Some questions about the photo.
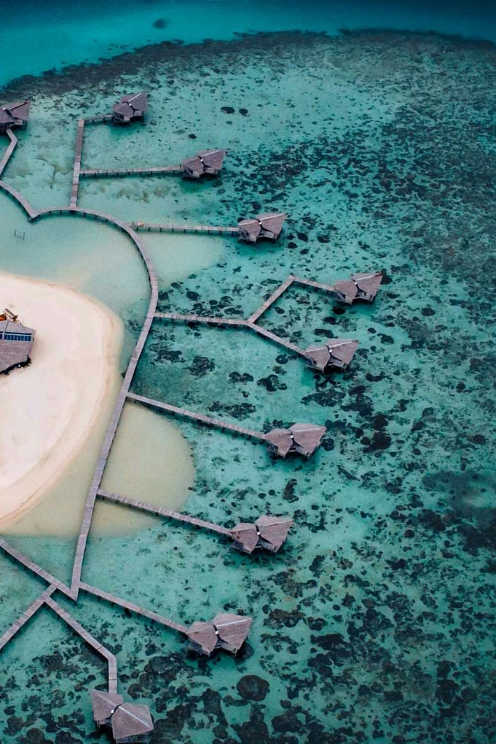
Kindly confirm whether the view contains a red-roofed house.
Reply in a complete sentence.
No, I can see no red-roofed house in this picture.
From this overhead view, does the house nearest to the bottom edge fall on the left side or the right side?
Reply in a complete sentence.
The house nearest to the bottom edge appears in the left half of the scene.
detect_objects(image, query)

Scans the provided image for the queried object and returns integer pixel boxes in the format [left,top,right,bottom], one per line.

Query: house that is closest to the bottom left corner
[86,691,153,744]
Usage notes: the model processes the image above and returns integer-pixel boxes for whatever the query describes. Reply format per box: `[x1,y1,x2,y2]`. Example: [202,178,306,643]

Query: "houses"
[233,214,287,250]
[0,102,32,142]
[325,273,382,315]
[178,151,226,187]
[296,337,359,383]
[110,90,152,130]
[256,421,326,469]
[225,513,293,563]
[182,609,252,663]
[86,691,153,744]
